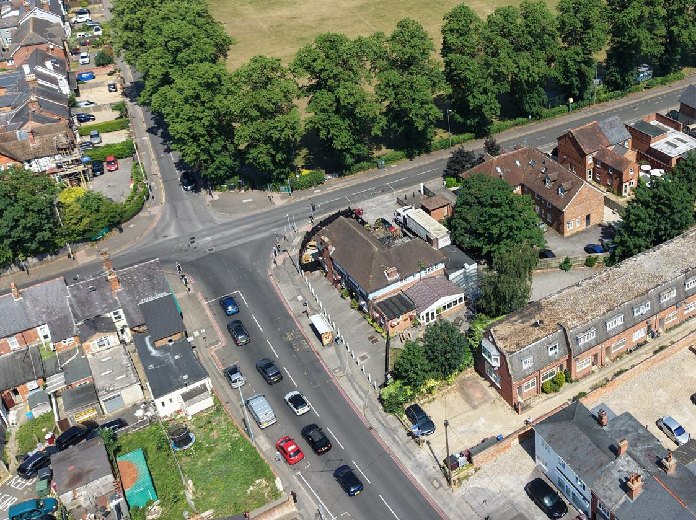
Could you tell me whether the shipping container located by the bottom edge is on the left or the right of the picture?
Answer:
left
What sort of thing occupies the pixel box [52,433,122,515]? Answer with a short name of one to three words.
building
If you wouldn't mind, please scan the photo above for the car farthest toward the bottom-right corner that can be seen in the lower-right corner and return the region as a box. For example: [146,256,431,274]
[655,413,690,447]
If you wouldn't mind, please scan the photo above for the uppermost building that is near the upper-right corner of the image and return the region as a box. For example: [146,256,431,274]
[629,73,652,94]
